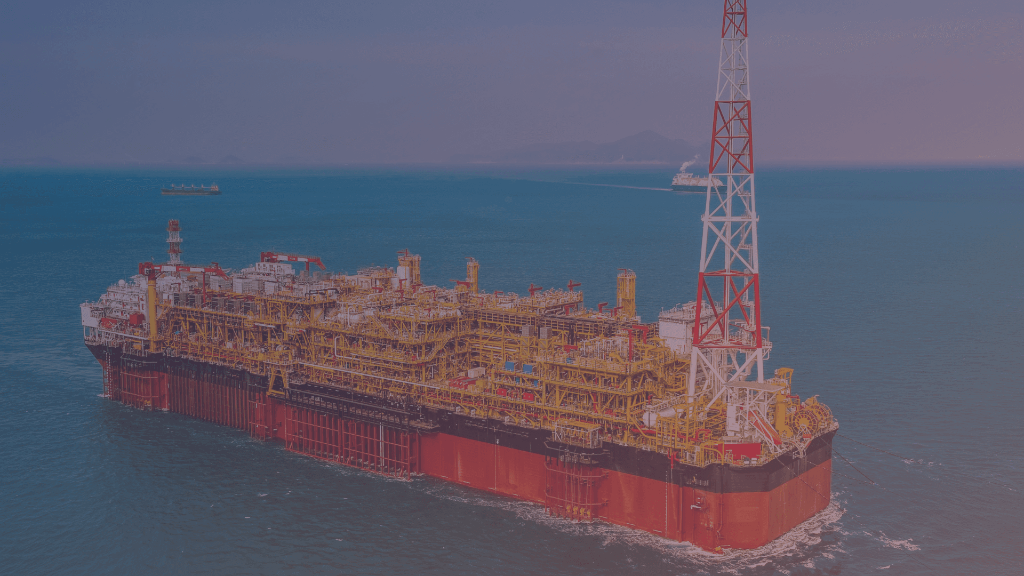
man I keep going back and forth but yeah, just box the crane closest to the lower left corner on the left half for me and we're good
[134,256,235,353]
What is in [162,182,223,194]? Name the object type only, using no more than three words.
ship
